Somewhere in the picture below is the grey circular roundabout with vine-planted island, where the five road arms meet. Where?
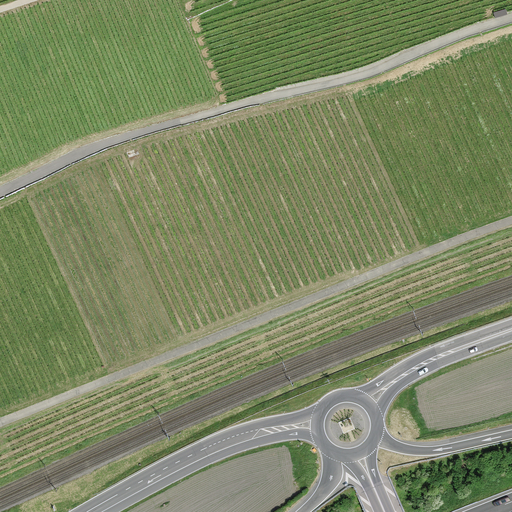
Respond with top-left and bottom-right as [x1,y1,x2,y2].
[310,389,384,462]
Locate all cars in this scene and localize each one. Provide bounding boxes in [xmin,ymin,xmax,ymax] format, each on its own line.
[418,367,429,375]
[494,497,510,506]
[469,346,478,352]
